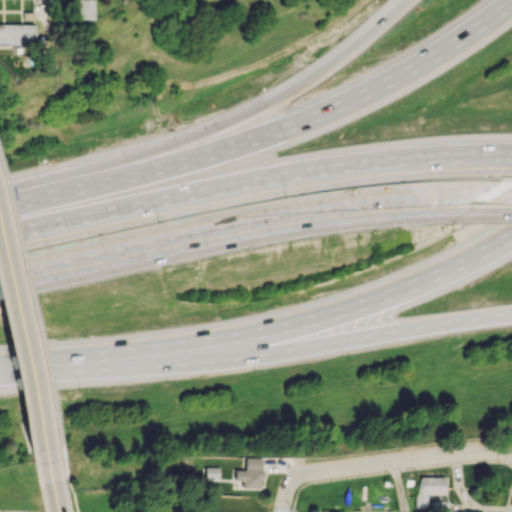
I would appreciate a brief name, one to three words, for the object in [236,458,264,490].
house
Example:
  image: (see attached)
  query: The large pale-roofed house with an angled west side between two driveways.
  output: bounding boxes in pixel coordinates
[418,478,450,512]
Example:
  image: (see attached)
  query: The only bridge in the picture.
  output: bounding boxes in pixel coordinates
[0,138,66,450]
